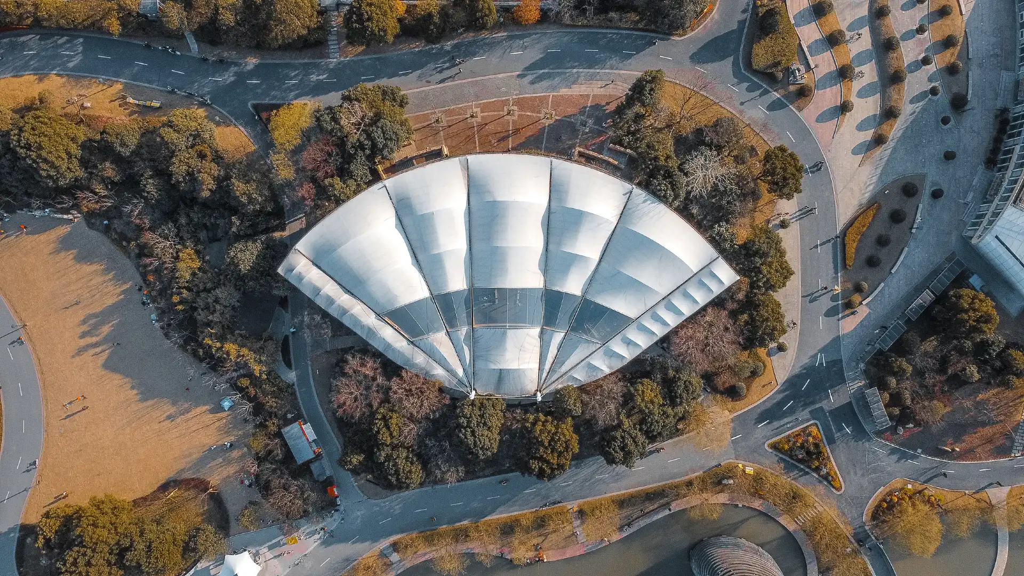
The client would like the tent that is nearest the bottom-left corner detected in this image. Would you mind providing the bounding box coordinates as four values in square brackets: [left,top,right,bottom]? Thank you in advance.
[213,547,266,576]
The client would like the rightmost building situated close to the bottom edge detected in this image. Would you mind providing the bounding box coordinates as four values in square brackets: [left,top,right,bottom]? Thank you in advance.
[693,534,786,576]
